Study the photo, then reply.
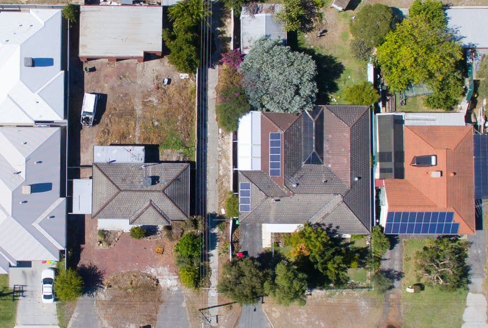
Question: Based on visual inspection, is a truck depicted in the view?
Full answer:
No, there isn't any truck down there.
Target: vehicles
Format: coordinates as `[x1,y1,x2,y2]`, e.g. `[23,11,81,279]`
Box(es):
[40,268,55,302]
[81,91,98,125]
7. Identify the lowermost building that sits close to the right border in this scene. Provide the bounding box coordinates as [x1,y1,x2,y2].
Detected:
[375,112,488,235]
